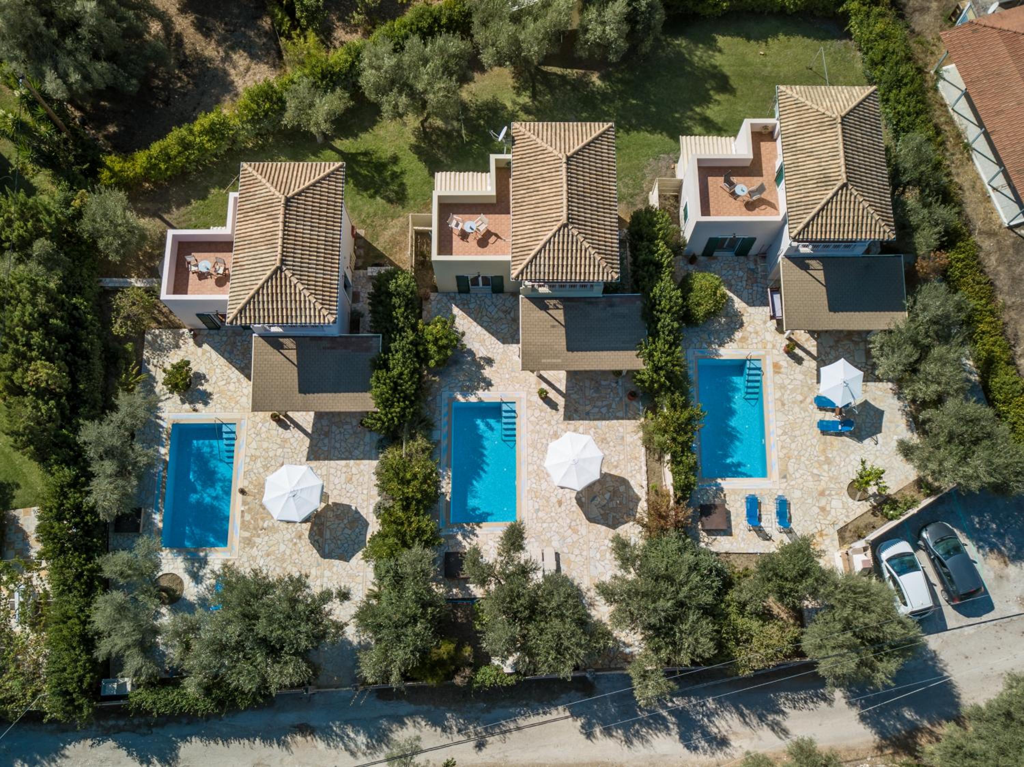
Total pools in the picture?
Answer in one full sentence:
My tally gives 3 pools in this view.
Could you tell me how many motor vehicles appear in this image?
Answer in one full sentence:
Altogether the scene contains 2 motor vehicles.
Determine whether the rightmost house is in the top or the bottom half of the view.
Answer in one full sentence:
The rightmost house is in the top half of the image.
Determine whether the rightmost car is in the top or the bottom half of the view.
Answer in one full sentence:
It is in the bottom half that the rightmost car appears.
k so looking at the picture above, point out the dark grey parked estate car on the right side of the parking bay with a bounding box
[920,519,986,607]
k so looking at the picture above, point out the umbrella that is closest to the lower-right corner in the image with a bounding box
[816,361,860,436]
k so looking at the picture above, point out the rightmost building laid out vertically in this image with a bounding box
[931,1,1024,231]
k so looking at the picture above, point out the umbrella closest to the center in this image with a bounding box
[544,434,603,493]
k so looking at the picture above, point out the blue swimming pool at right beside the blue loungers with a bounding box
[686,349,782,488]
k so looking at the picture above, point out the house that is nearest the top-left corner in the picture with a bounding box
[161,159,358,337]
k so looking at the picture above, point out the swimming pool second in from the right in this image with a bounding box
[438,391,527,534]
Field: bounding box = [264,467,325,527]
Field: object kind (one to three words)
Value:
umbrella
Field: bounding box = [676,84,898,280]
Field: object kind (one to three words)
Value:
house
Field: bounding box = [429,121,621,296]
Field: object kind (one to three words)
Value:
house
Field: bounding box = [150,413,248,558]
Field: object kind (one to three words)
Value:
swimming pool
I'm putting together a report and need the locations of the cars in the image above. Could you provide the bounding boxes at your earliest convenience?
[877,536,937,622]
[920,519,986,607]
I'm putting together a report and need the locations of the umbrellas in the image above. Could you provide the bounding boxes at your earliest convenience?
[544,434,603,493]
[264,467,325,527]
[816,361,860,436]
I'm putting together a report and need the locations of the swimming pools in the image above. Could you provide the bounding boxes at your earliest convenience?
[438,391,527,534]
[150,413,248,558]
[686,349,782,488]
